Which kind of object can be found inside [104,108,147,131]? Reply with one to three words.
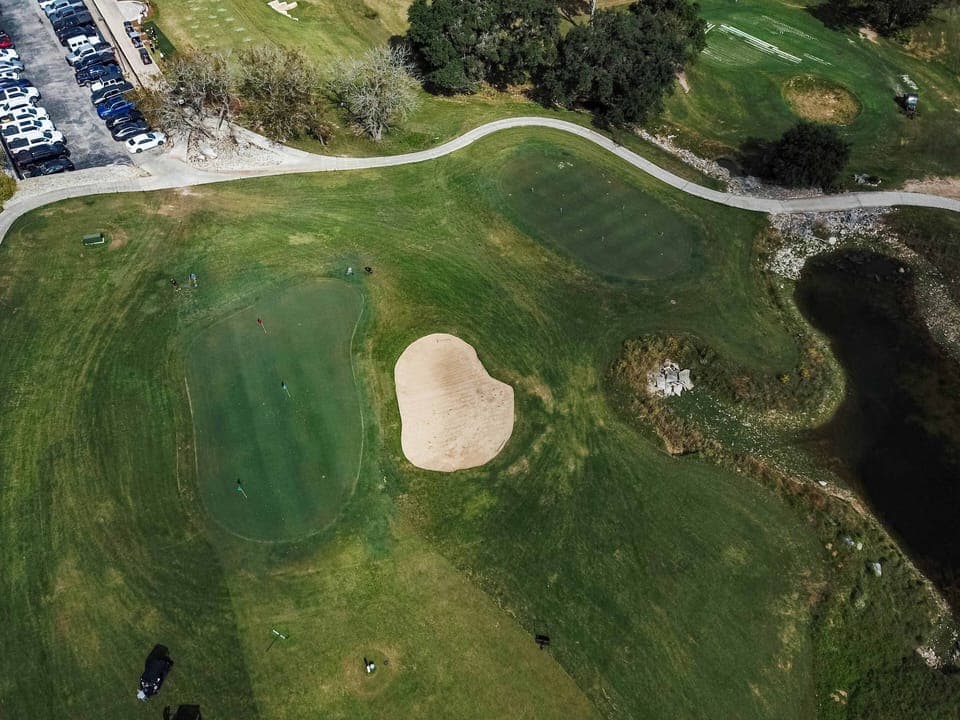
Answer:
car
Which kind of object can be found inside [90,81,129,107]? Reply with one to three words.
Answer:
car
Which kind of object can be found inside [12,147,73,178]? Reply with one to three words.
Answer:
vehicle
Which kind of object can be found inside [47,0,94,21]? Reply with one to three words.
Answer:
vehicle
